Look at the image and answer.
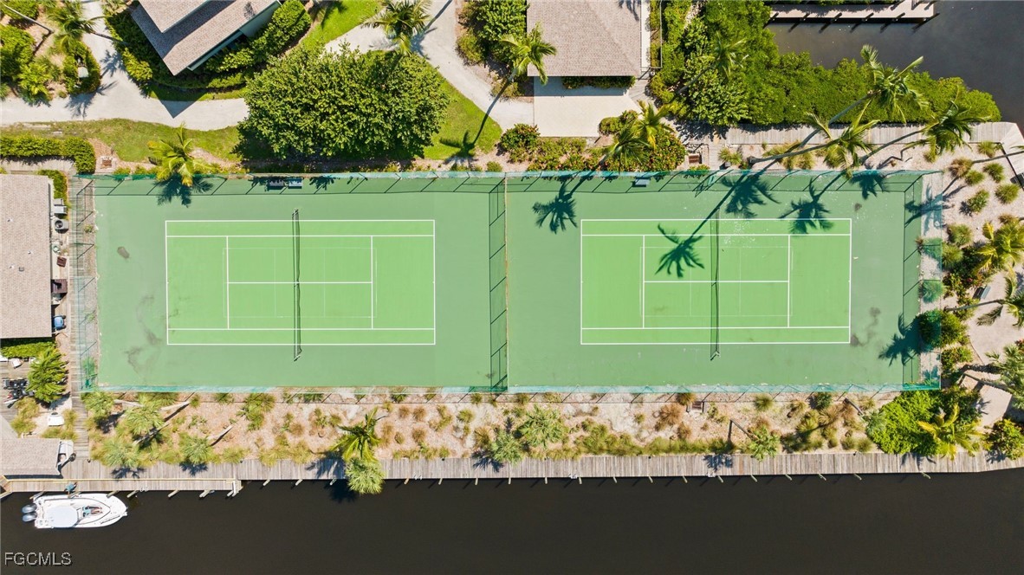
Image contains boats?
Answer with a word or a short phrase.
Yes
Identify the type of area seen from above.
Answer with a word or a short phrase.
sports ground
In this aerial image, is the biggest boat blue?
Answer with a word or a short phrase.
No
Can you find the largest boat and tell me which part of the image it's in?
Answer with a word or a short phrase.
bottom left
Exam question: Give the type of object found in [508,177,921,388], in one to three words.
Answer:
tennis court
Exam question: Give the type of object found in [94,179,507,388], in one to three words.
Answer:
tennis court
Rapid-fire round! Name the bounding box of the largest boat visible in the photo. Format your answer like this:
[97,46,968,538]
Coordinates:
[17,496,129,532]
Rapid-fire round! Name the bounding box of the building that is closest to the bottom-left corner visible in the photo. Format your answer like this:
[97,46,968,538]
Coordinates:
[0,437,63,476]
